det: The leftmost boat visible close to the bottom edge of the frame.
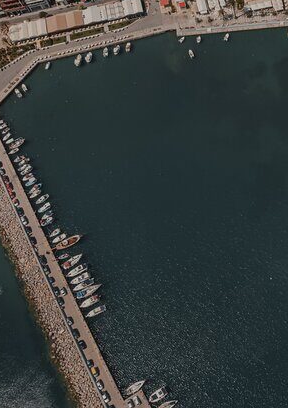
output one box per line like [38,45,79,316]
[125,380,145,396]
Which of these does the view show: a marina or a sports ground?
marina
